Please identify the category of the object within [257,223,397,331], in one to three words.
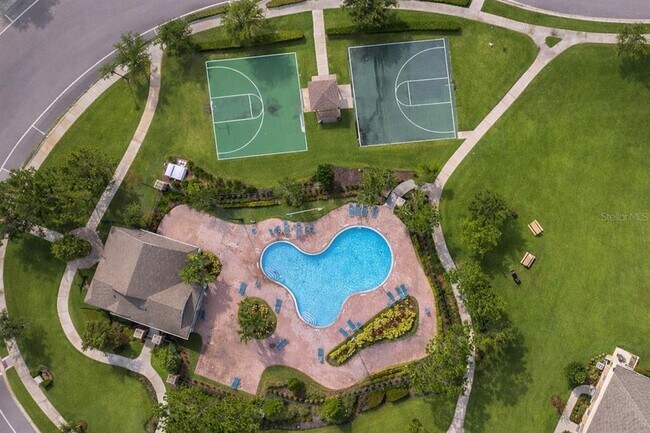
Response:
swimming pool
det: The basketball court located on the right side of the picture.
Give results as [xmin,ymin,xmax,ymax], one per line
[348,38,460,147]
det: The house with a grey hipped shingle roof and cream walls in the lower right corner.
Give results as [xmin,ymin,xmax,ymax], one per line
[574,348,650,433]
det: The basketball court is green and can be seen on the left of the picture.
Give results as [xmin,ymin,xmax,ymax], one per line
[206,53,308,160]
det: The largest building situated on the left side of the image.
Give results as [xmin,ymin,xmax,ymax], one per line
[85,225,208,340]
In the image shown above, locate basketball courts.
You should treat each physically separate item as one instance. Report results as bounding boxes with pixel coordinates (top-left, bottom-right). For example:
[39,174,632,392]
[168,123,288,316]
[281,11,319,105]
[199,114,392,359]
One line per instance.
[348,38,460,147]
[206,53,308,160]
